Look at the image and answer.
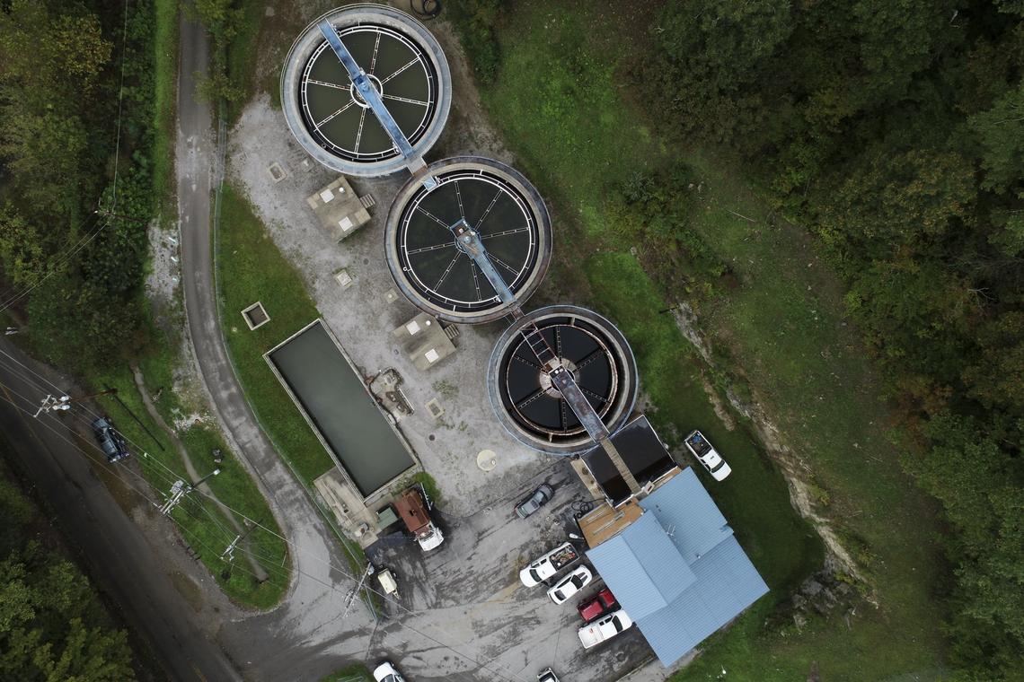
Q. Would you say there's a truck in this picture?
Yes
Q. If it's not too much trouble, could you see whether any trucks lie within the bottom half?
Yes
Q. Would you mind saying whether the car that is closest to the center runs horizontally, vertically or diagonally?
diagonally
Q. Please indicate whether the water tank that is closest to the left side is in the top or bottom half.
top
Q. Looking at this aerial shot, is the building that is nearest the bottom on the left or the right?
right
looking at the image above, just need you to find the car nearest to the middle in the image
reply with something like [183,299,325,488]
[511,480,557,523]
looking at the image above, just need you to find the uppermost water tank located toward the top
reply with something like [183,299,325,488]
[278,0,453,177]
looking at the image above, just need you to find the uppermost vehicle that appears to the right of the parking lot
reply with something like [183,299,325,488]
[679,425,733,483]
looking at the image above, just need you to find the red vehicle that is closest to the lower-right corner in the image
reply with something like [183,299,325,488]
[577,584,619,623]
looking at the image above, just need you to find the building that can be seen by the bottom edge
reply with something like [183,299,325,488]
[584,466,770,668]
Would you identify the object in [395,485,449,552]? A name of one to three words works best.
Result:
truck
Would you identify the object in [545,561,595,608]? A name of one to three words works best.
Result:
car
